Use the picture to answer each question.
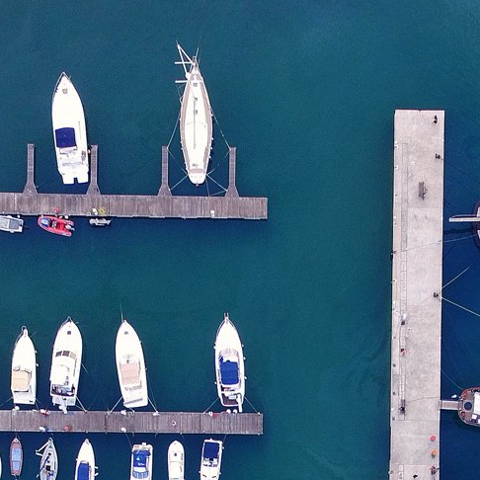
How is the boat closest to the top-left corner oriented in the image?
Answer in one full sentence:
The boat closest to the top-left corner is oriented from top to bottom.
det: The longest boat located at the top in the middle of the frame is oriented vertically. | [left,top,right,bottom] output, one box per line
[176,49,215,188]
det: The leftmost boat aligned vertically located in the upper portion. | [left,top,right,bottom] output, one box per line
[50,67,89,185]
